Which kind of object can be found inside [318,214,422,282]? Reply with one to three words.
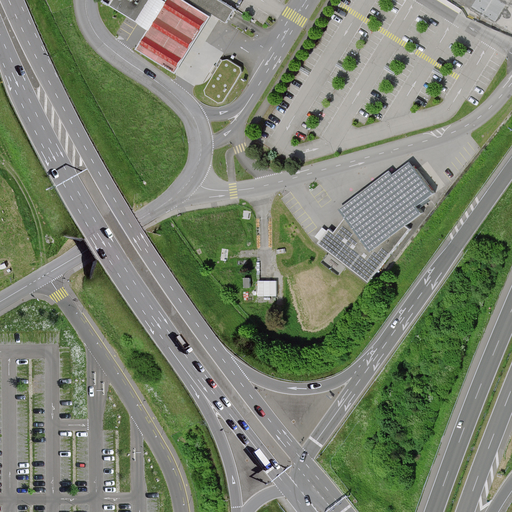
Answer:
building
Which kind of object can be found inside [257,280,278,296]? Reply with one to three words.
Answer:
shed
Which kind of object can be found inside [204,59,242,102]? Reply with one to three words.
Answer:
building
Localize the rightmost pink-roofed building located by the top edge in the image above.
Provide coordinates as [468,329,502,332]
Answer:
[136,0,209,72]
